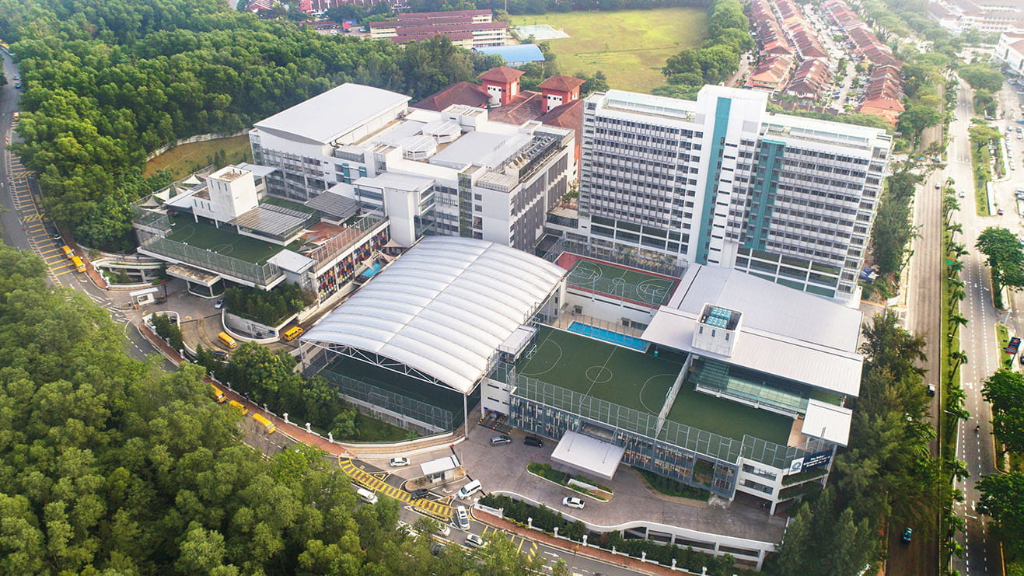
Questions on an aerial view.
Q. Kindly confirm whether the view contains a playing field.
Yes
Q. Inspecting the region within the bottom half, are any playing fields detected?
Yes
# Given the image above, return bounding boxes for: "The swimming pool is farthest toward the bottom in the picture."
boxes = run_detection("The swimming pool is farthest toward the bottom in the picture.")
[542,303,654,352]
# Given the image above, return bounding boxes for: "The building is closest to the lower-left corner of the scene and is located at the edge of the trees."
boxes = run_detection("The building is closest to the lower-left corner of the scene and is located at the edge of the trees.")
[122,286,162,306]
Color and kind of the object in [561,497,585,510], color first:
white vehicle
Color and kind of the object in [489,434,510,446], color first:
gray vehicle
